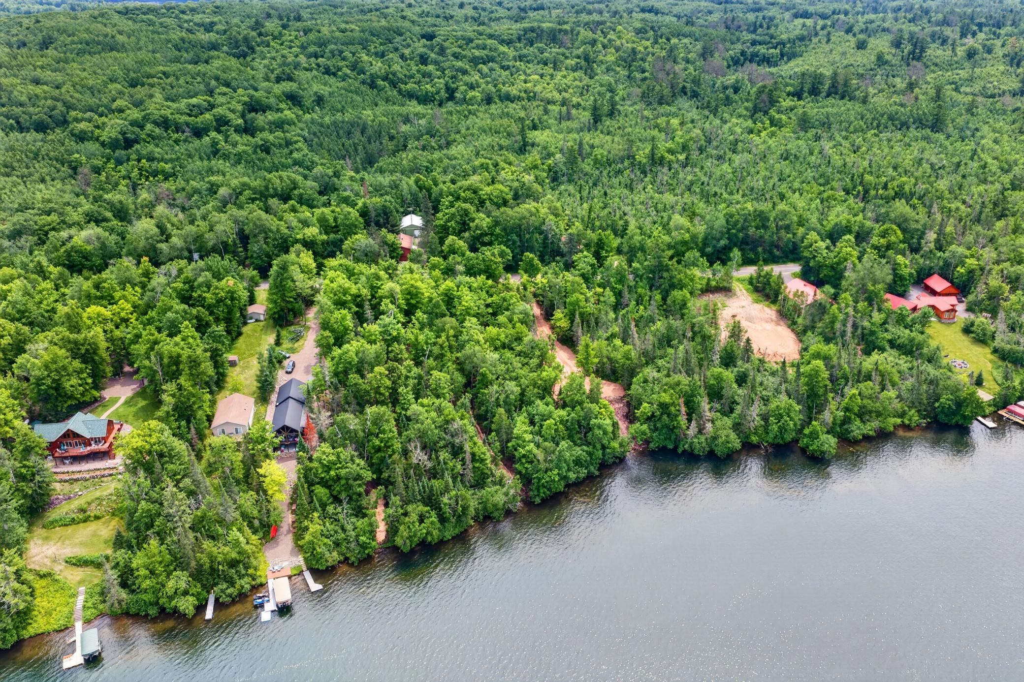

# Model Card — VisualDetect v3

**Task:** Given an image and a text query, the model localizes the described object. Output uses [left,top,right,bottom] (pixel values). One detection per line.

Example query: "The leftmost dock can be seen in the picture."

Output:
[62,621,85,672]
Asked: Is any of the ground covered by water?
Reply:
Yes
